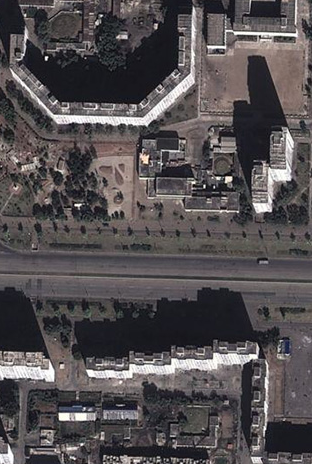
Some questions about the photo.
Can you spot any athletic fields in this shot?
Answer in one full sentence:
Yes, the frame does contain an athletic field.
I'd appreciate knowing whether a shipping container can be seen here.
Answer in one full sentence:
No, the photo shows no shipping container.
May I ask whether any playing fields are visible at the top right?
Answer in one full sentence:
Yes, a playing field is visible at the top right.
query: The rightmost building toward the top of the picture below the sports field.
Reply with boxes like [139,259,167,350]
[270,129,291,182]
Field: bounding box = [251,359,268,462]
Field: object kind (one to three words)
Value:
building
